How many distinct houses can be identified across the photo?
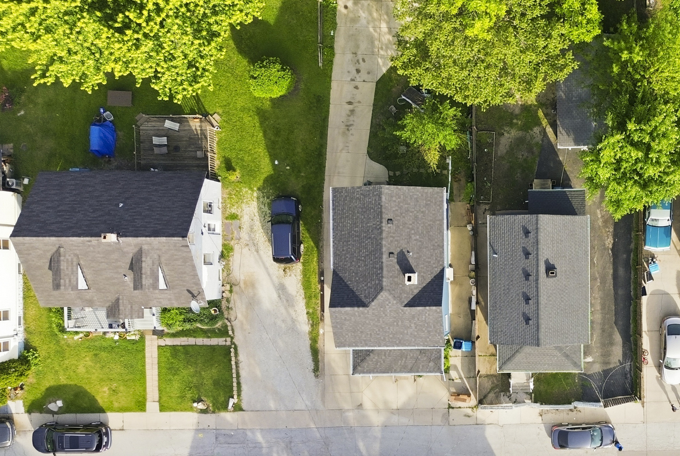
3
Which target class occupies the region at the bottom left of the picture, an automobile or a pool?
automobile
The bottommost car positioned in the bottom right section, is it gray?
Yes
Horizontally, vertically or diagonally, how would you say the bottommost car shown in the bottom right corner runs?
horizontally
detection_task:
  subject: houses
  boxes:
[6,171,222,333]
[487,184,592,393]
[327,156,455,380]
